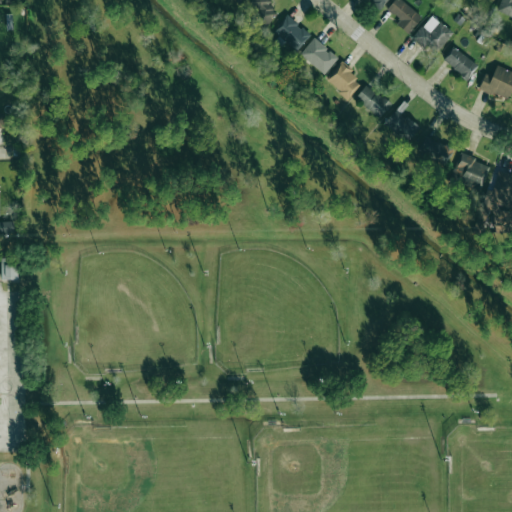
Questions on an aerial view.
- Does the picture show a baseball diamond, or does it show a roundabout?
baseball diamond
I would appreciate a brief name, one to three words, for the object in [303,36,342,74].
house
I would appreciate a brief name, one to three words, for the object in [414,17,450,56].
house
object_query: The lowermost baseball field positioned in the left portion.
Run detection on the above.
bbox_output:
[64,426,249,512]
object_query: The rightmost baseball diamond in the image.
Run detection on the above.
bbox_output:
[448,425,512,512]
